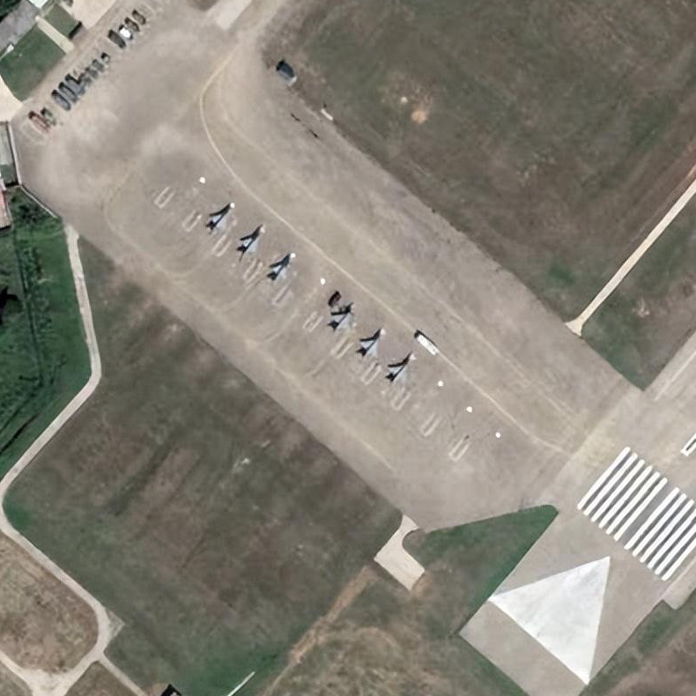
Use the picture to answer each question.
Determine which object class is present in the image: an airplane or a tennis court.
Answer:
airplane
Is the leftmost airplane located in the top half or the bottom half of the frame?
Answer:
top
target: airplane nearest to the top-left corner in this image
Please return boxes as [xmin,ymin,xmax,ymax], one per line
[206,205,232,235]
